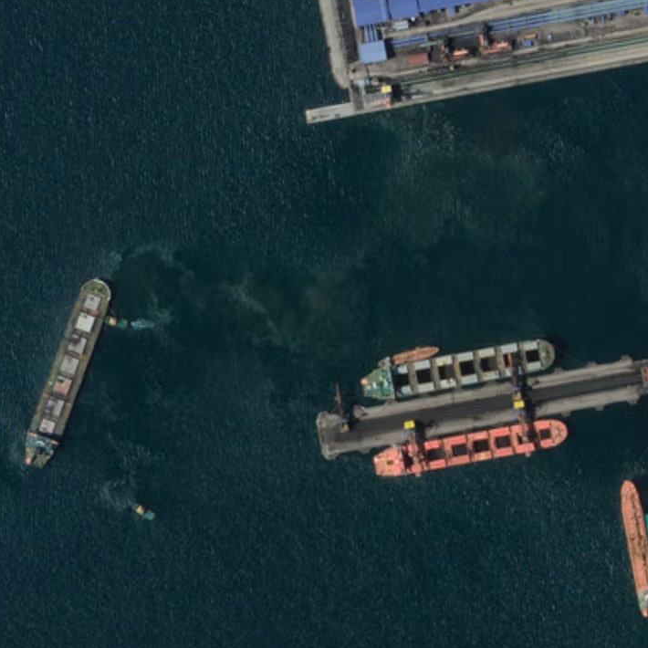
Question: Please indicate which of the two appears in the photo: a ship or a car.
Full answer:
Looking from above, you can make out a ship.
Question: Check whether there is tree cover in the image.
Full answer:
No, the picture contains no tree cover.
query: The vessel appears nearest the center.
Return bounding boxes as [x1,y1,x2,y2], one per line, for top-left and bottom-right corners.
[381,348,441,366]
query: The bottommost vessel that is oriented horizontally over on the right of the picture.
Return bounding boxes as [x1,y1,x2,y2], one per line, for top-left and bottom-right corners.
[373,421,568,478]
